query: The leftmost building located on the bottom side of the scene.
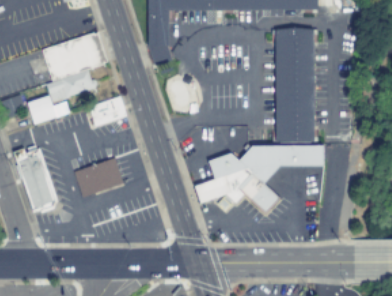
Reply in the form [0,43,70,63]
[14,147,58,212]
